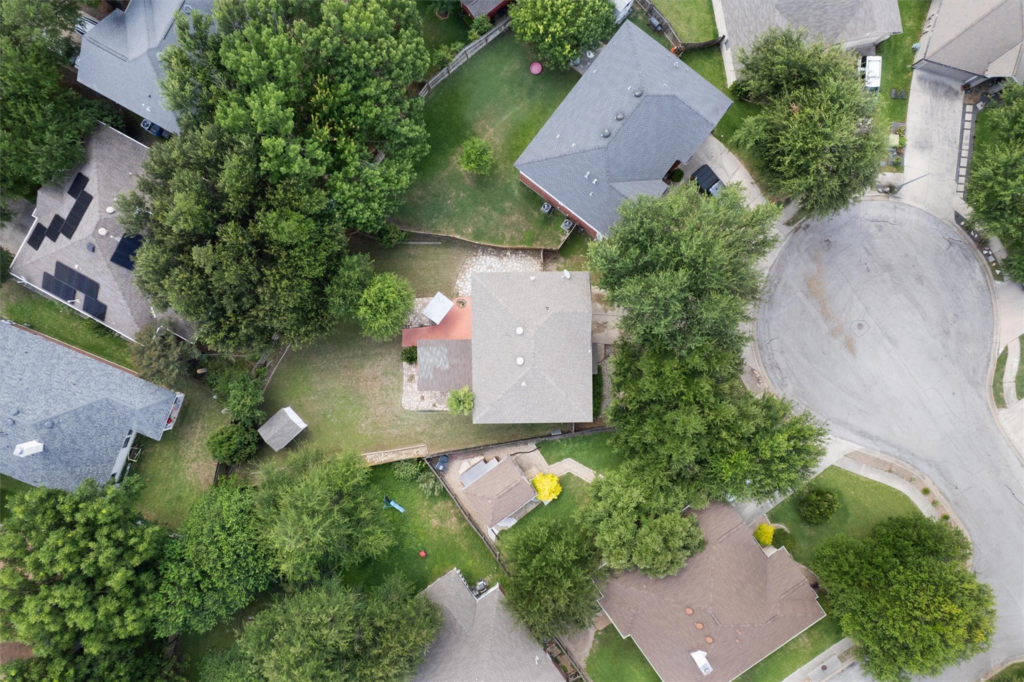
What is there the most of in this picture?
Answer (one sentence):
Most of the picture is covered by trees.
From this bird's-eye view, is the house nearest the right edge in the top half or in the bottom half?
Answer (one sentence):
It is in the top half that the house nearest the right edge appears.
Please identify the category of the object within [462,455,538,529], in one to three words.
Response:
house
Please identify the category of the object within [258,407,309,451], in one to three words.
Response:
shed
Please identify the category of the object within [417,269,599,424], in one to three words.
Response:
house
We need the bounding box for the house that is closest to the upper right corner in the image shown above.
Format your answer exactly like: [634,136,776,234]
[911,0,1024,85]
